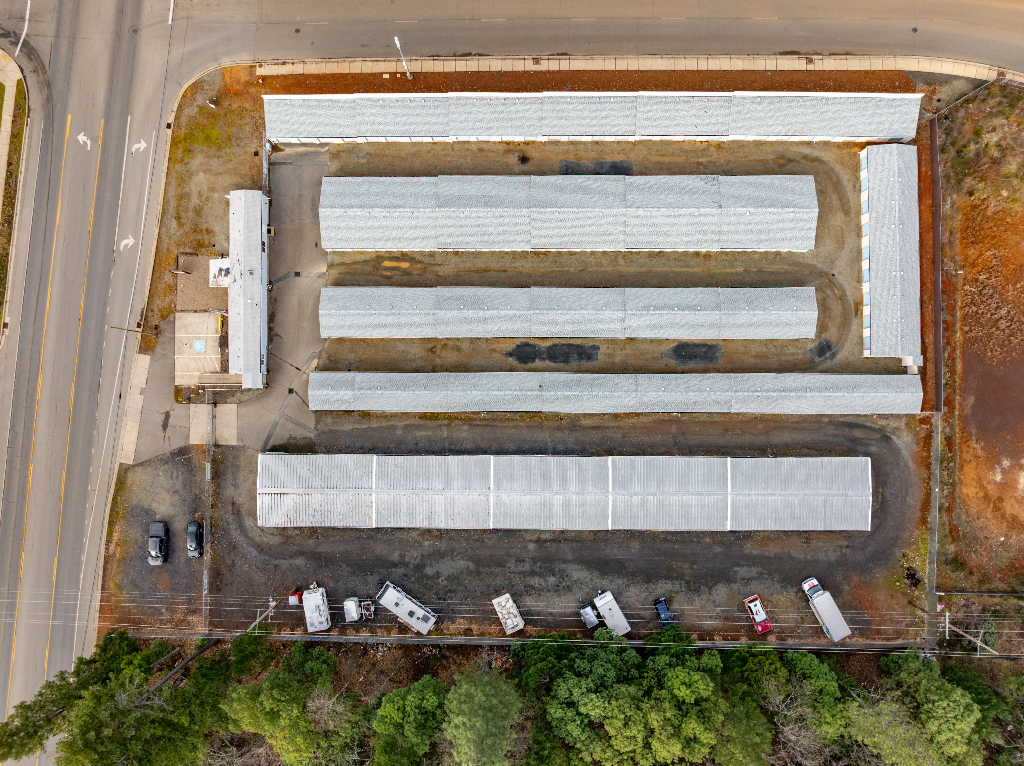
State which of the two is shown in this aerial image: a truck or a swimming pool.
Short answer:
truck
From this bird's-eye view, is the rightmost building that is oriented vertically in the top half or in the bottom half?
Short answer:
top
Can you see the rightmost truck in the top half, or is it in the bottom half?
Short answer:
bottom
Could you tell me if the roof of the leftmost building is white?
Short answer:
Yes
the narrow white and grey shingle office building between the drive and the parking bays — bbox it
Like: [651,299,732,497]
[225,189,274,389]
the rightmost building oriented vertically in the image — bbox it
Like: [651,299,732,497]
[859,143,922,366]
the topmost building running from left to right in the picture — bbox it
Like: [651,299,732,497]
[262,91,924,145]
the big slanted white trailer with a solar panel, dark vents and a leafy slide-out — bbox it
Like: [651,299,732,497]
[376,579,439,635]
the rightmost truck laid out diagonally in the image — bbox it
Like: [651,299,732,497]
[800,576,851,642]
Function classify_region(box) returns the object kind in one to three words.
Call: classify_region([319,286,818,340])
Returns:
building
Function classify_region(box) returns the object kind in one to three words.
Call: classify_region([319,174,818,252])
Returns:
building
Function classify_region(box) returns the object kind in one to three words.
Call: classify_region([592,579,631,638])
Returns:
trailer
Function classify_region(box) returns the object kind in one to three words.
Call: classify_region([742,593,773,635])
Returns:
car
